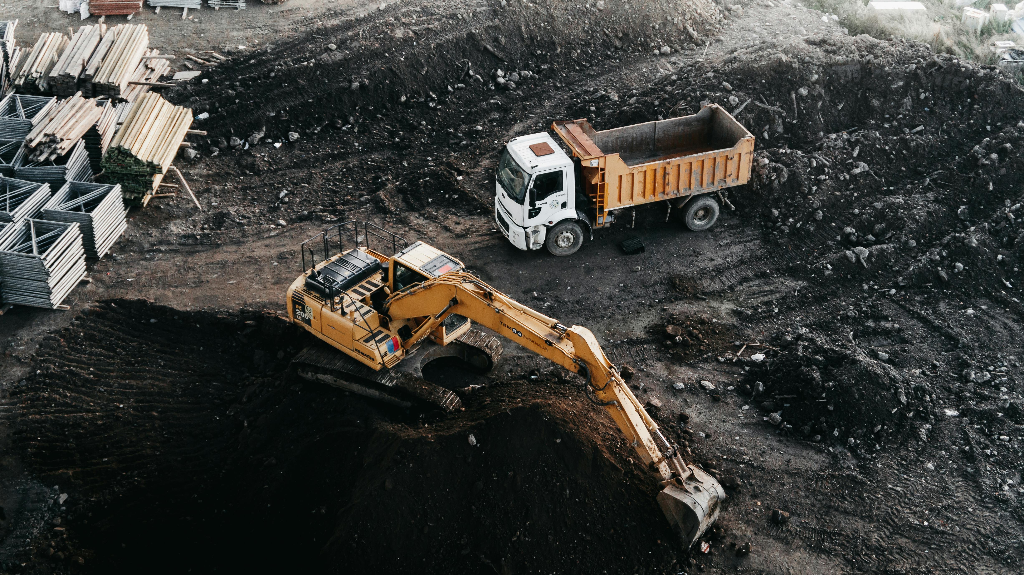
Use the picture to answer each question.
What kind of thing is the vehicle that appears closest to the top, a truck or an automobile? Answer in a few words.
truck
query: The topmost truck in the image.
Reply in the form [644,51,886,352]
[494,103,755,256]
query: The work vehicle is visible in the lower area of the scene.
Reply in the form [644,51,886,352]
[279,216,728,558]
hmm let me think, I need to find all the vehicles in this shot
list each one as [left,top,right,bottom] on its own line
[279,216,728,558]
[494,103,755,256]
